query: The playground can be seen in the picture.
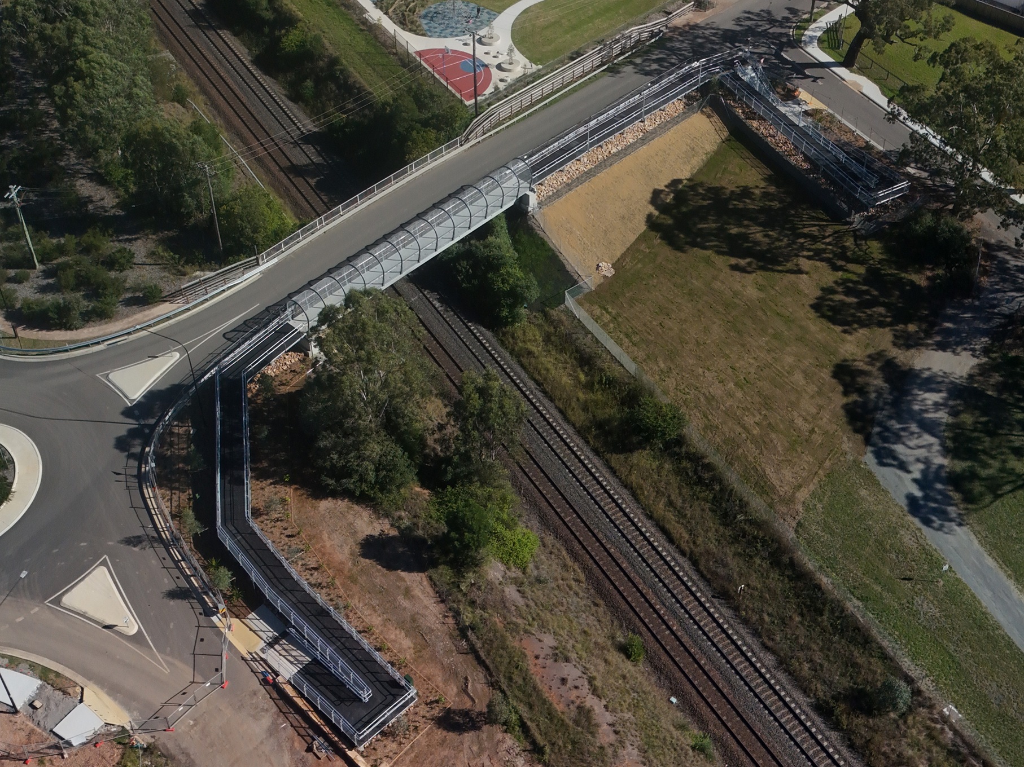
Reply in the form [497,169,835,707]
[420,0,500,38]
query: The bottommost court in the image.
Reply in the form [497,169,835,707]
[414,48,492,101]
